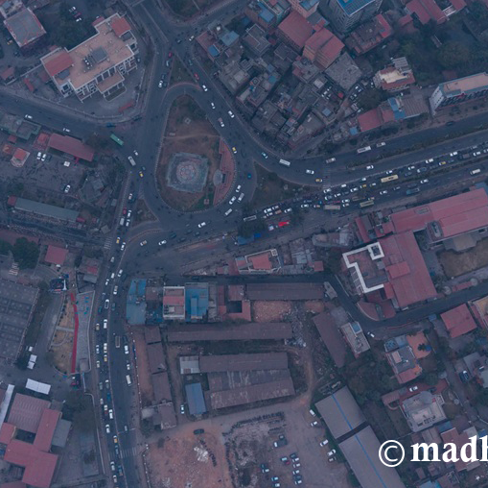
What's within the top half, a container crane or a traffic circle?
traffic circle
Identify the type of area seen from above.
residential area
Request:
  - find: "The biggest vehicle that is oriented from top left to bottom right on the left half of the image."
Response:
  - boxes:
[108,132,125,147]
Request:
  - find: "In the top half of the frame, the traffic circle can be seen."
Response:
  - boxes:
[155,94,236,213]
